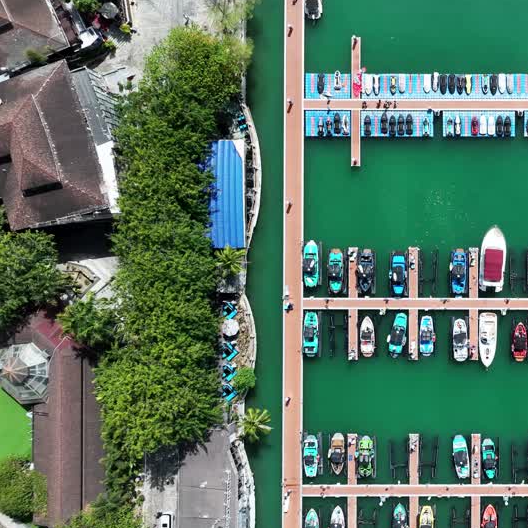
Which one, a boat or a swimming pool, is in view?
boat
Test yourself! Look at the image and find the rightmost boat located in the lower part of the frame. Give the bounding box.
[511,323,528,361]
